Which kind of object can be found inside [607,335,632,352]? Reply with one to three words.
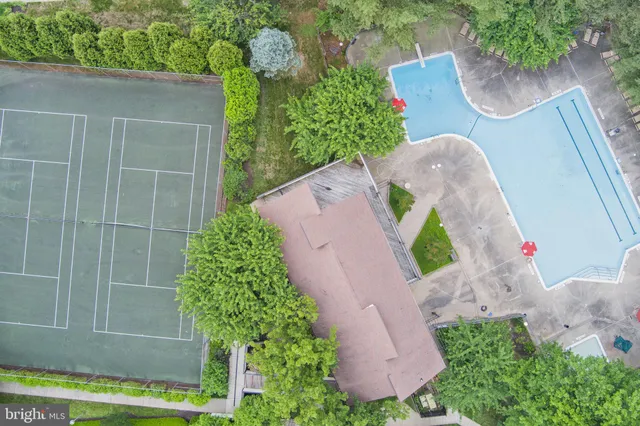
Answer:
umbrella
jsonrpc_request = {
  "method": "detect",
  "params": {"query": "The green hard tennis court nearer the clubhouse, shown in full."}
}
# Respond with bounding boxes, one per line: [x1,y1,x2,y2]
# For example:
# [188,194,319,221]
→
[78,75,226,384]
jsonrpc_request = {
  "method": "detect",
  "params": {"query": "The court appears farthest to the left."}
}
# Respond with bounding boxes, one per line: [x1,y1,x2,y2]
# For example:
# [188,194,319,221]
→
[0,67,103,372]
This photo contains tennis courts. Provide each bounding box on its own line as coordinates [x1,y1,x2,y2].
[0,67,103,372]
[78,75,226,384]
